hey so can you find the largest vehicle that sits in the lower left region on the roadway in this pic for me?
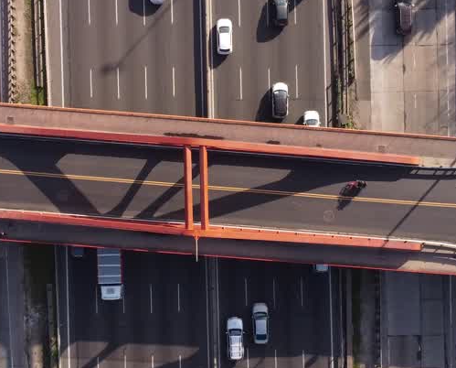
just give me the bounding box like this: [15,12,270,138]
[97,248,121,299]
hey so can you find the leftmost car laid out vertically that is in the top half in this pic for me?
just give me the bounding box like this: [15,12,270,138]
[216,19,233,56]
